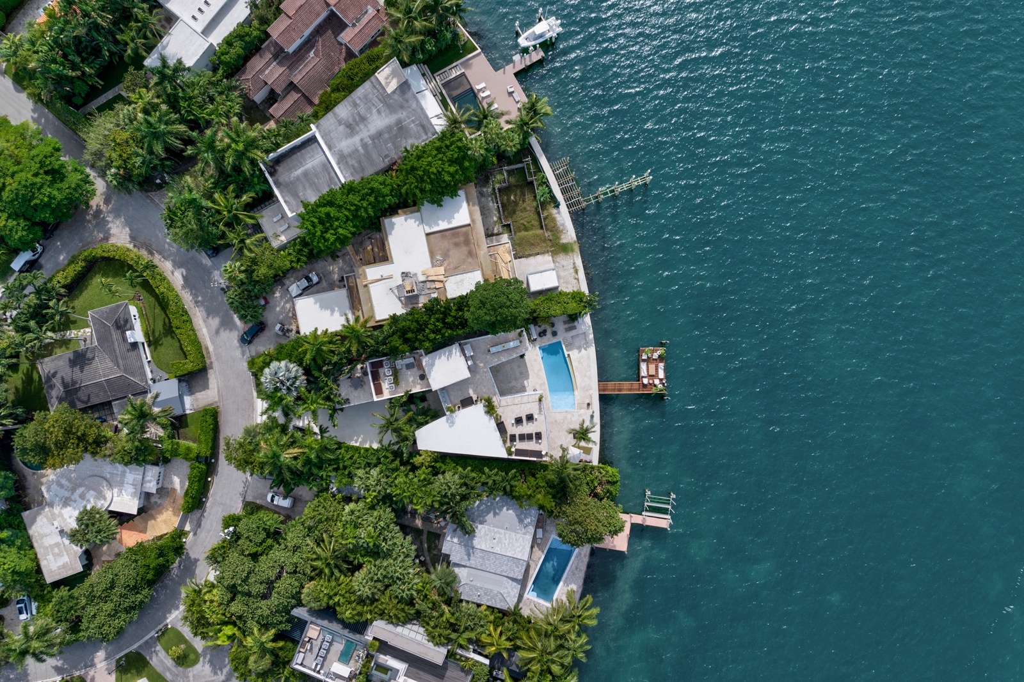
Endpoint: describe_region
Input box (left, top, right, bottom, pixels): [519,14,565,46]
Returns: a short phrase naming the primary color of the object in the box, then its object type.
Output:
white boat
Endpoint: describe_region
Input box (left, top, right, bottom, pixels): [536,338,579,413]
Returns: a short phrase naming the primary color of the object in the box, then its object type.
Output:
blue swimming pool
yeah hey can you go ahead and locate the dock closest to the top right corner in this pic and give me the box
[584,171,653,205]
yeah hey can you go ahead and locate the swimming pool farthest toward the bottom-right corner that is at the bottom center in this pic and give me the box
[524,535,579,608]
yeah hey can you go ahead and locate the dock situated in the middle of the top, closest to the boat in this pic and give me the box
[460,50,545,131]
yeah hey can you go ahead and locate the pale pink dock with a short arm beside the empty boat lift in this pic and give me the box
[592,512,670,552]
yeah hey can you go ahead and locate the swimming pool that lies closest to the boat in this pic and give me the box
[437,68,492,133]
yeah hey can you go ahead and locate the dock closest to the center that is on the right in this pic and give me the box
[600,347,667,394]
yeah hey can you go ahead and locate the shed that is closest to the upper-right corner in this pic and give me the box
[527,268,559,294]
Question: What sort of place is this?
residential area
